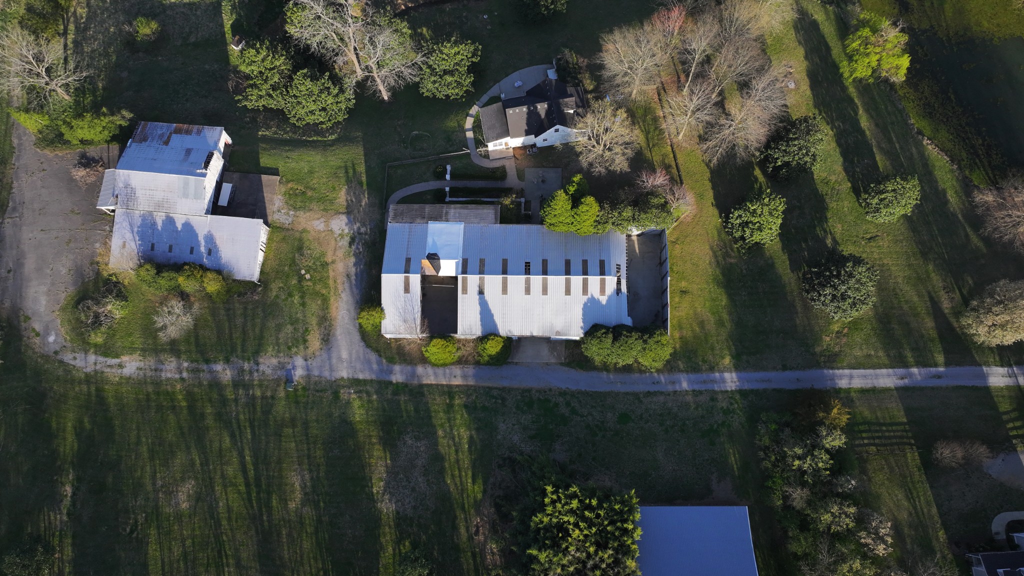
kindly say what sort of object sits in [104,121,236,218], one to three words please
barn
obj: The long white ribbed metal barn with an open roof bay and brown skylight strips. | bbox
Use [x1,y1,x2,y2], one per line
[381,204,635,343]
